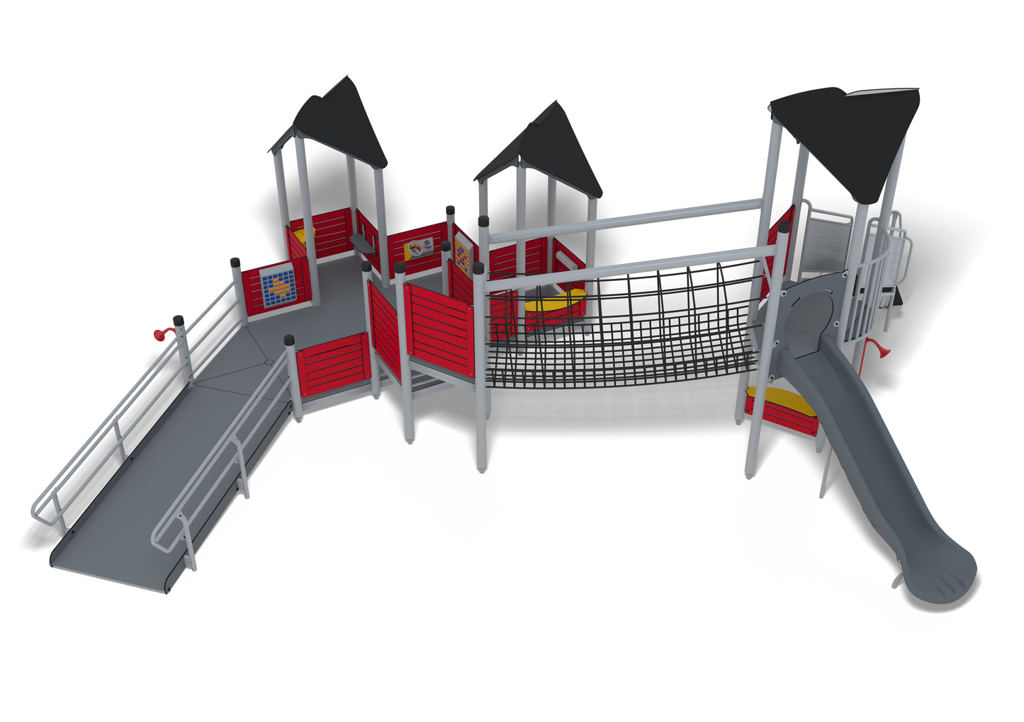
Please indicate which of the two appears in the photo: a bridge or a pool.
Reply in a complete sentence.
Of the two, only a bridge appears.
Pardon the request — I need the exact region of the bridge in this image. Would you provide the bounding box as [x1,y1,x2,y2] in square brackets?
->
[482,198,777,390]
